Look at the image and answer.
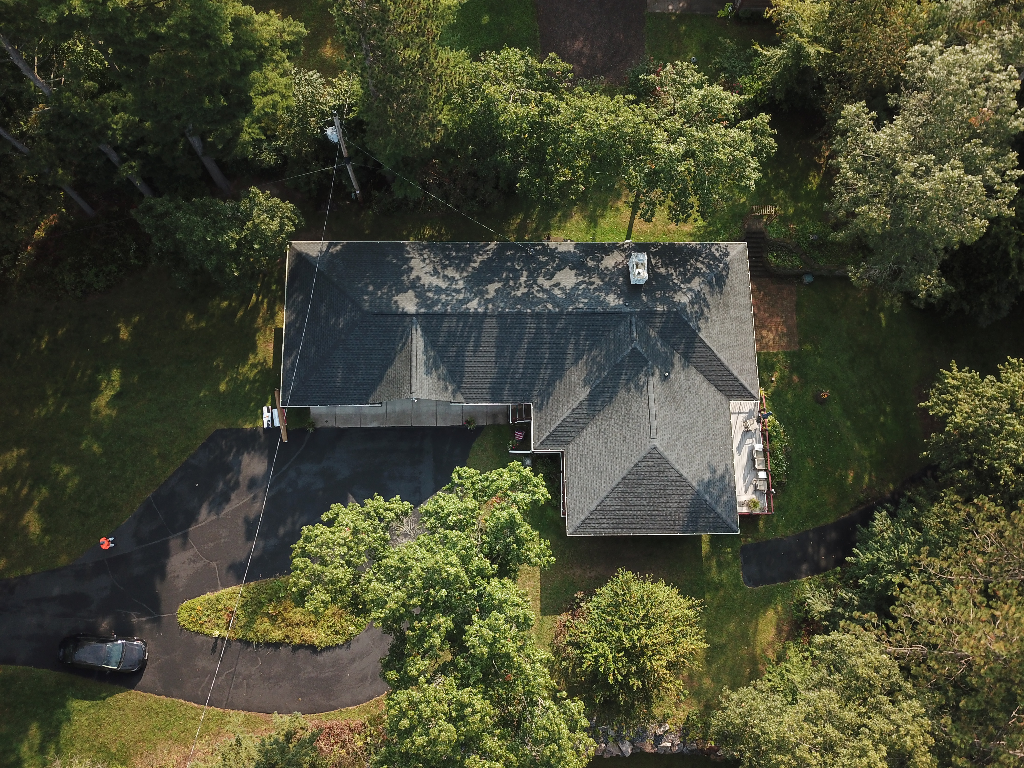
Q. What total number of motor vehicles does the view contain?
1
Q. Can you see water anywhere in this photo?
No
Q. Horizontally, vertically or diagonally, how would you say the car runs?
horizontally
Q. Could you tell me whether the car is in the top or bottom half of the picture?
bottom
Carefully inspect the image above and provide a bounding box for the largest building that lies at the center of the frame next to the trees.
[281,240,759,536]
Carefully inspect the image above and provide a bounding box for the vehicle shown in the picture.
[56,630,152,677]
